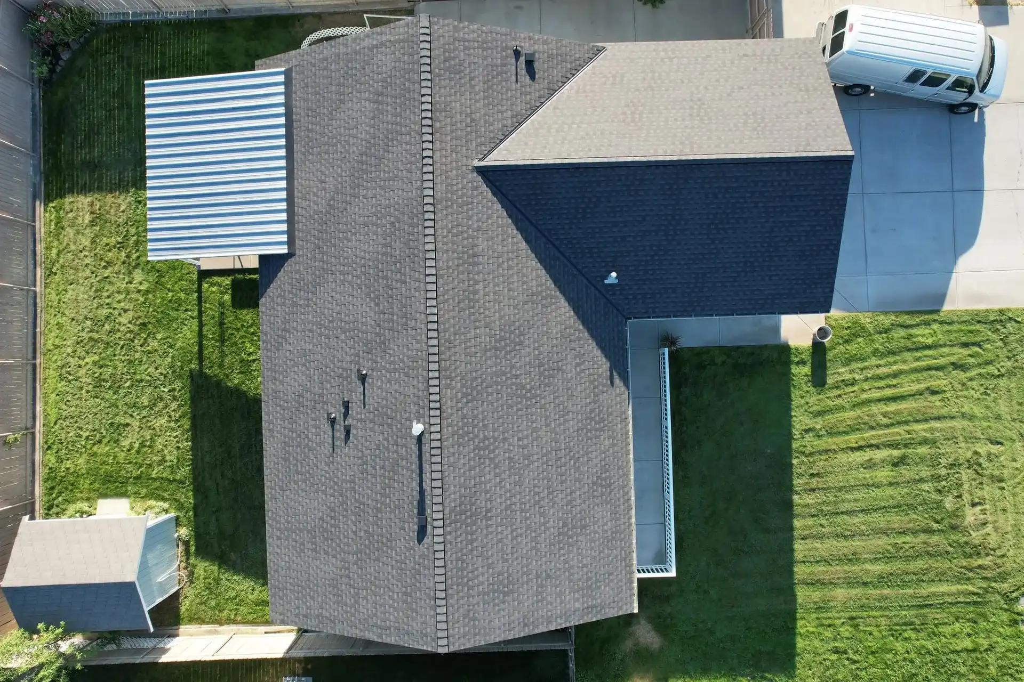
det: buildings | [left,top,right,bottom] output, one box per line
[253,15,858,655]
[2,511,179,637]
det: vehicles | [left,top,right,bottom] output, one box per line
[814,4,1008,115]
